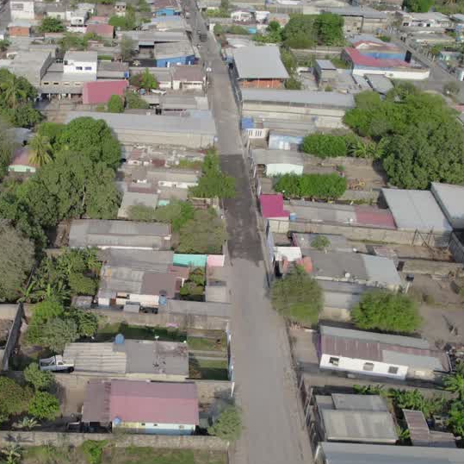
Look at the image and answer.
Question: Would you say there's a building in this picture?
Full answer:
Yes, there is a building in the image.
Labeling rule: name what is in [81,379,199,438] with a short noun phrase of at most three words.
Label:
house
